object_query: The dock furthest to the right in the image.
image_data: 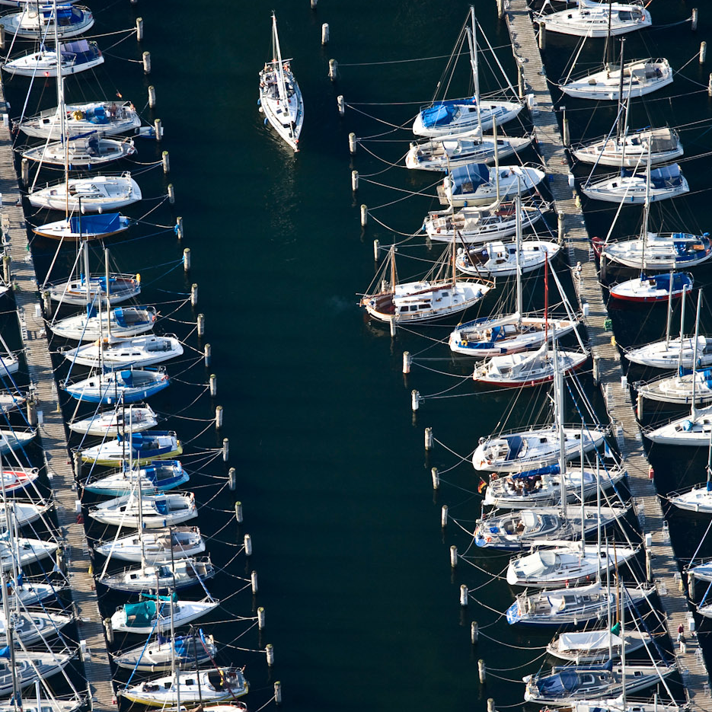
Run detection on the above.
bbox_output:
[502,0,712,712]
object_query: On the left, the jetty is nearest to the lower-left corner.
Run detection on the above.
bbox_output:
[0,80,118,712]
